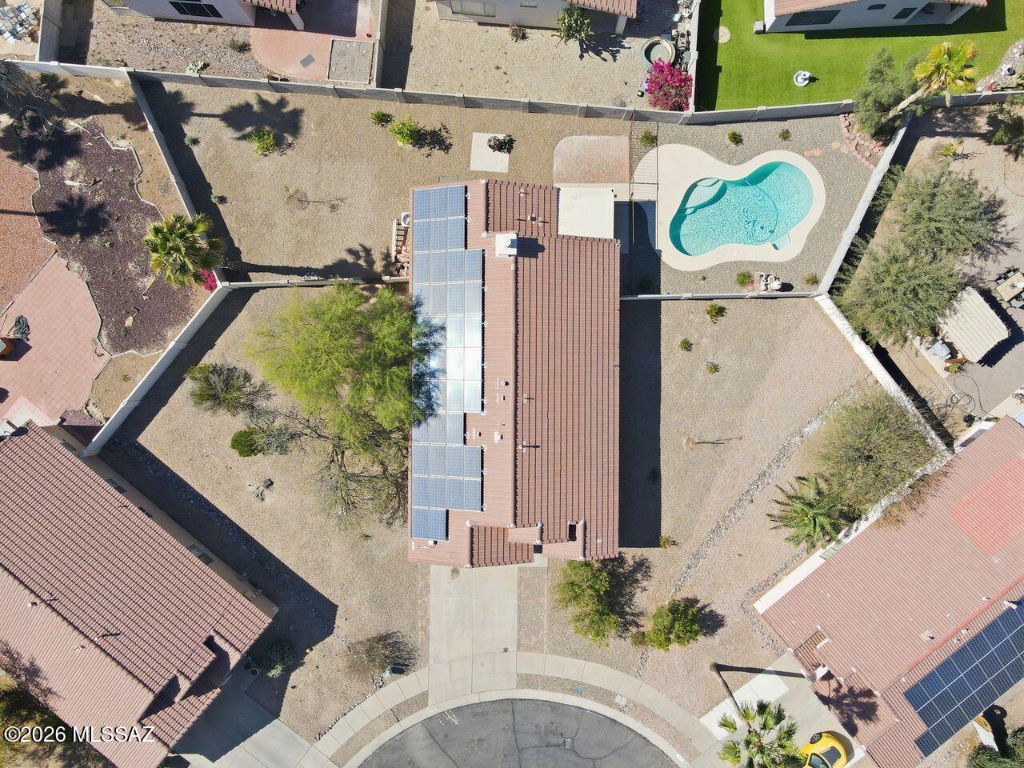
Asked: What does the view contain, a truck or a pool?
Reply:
pool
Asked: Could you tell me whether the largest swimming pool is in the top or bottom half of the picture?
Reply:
top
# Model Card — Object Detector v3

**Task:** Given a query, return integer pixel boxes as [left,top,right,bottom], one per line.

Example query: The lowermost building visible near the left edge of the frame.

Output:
[0,430,280,768]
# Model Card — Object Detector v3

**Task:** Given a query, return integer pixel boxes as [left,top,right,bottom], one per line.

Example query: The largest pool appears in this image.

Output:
[665,157,819,259]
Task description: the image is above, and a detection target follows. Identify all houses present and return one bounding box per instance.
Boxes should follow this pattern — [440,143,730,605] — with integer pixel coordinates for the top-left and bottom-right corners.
[0,430,280,768]
[109,0,302,28]
[410,178,620,570]
[766,0,989,32]
[754,420,1024,768]
[426,0,643,34]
